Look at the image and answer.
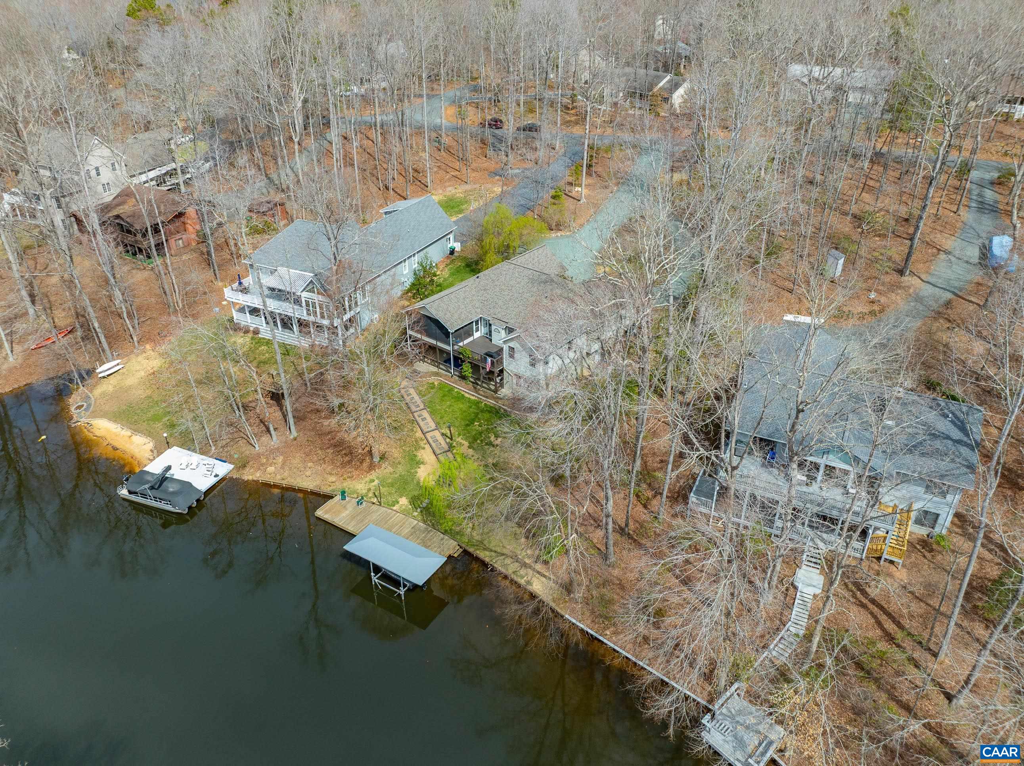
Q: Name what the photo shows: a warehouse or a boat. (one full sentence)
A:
It is a boat that can be seen here.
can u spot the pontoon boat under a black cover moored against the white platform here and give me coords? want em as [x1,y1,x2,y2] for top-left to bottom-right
[116,469,201,514]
